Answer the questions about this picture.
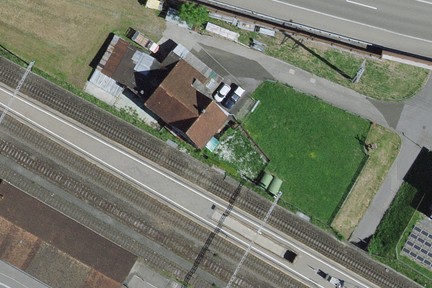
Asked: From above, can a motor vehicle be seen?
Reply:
Yes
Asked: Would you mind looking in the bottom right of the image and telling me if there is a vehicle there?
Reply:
No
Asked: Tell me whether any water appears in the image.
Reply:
No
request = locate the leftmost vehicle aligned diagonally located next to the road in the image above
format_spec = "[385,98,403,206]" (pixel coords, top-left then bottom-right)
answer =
[132,29,161,52]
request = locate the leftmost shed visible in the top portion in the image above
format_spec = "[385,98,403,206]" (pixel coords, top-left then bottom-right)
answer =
[90,34,161,96]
